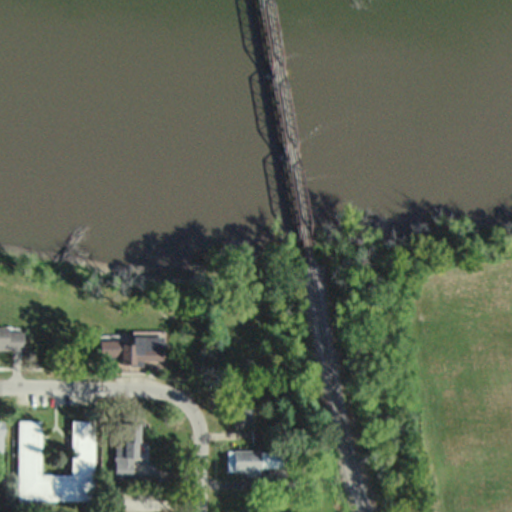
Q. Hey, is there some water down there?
Yes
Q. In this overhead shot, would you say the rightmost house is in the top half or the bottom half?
bottom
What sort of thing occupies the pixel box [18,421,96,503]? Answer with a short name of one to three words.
building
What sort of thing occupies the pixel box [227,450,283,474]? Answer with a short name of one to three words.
house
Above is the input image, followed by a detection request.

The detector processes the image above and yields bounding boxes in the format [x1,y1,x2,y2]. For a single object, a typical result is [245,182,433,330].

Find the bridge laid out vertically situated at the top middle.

[258,0,320,251]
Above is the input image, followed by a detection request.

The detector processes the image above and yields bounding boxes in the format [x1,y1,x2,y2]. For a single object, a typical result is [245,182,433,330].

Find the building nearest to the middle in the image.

[101,331,167,366]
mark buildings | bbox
[116,412,142,476]
[18,421,96,503]
[0,422,6,456]
[101,331,167,366]
[227,450,283,474]
[0,326,26,356]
